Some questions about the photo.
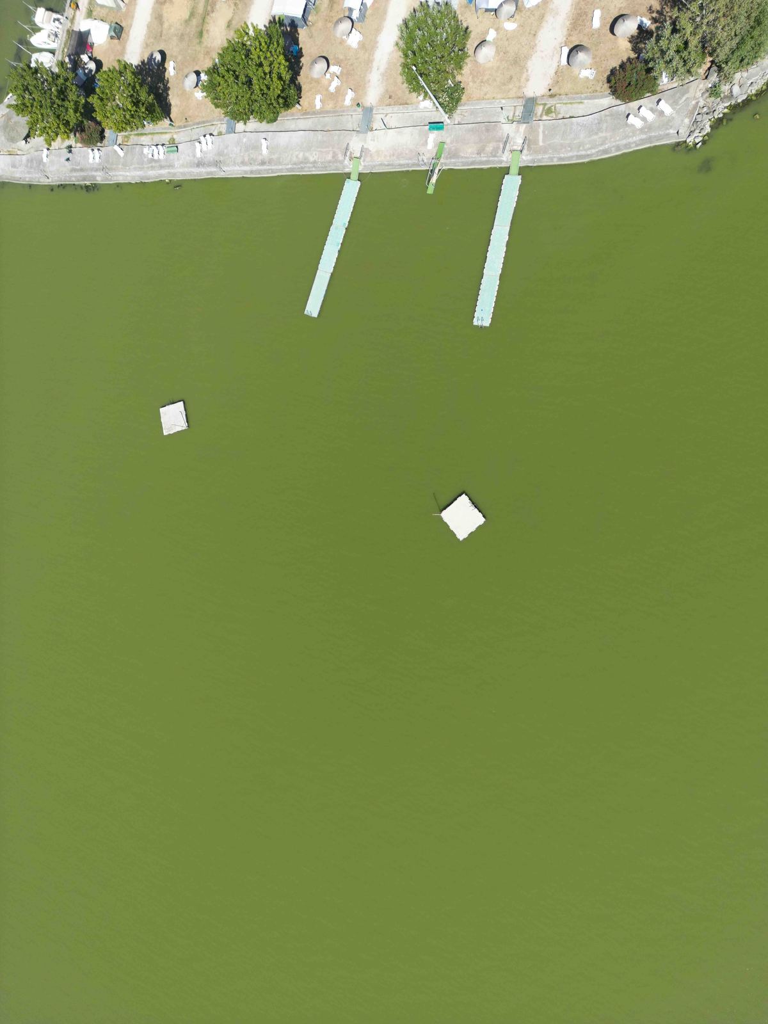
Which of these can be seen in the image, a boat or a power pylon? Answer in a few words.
boat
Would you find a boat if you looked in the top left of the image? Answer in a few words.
Yes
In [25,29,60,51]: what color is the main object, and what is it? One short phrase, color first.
white boat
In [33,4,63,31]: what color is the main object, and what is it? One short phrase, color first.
white boat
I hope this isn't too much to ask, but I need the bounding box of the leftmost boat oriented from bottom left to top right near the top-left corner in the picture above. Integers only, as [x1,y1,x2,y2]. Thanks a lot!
[1,83,19,103]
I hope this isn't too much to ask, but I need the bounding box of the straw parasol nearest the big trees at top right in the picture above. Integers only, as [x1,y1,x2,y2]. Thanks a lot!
[612,15,640,51]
